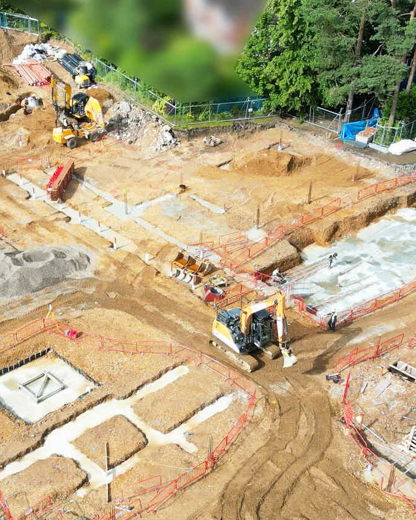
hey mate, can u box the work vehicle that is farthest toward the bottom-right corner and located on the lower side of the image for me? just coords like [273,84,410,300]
[201,288,303,377]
